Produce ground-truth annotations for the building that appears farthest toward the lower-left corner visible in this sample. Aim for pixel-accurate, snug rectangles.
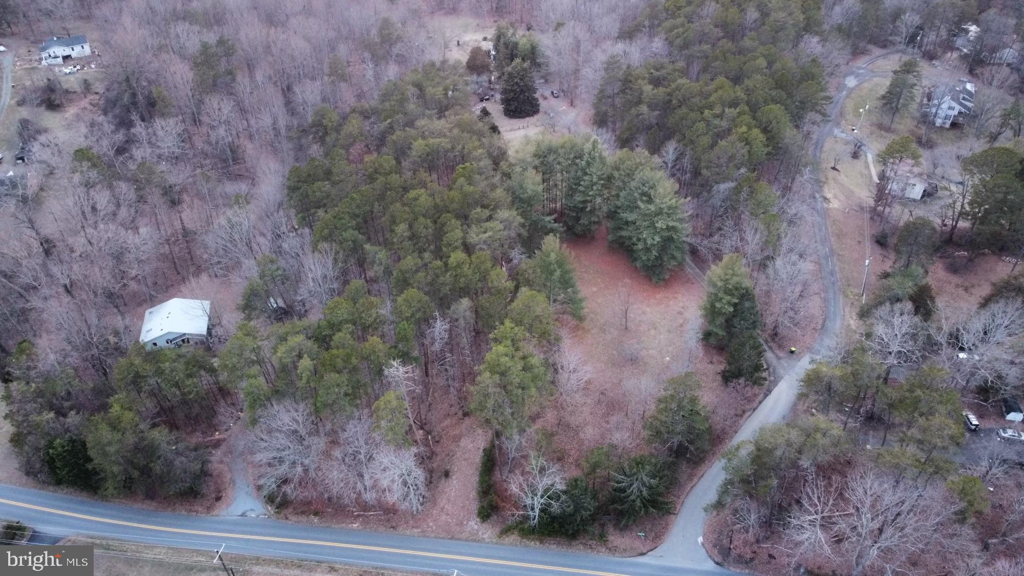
[138,295,214,360]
